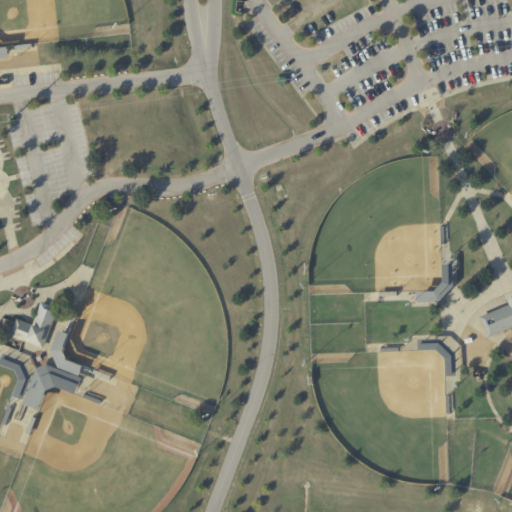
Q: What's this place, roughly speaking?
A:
sports ground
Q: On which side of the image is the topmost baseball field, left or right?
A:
left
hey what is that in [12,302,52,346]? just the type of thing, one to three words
building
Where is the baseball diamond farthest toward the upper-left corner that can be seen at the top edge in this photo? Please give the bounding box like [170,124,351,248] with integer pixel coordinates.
[0,0,130,46]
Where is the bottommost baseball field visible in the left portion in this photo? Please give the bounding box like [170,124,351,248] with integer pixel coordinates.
[0,389,200,512]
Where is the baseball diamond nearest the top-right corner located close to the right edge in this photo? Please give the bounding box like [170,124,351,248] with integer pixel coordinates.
[466,110,512,202]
